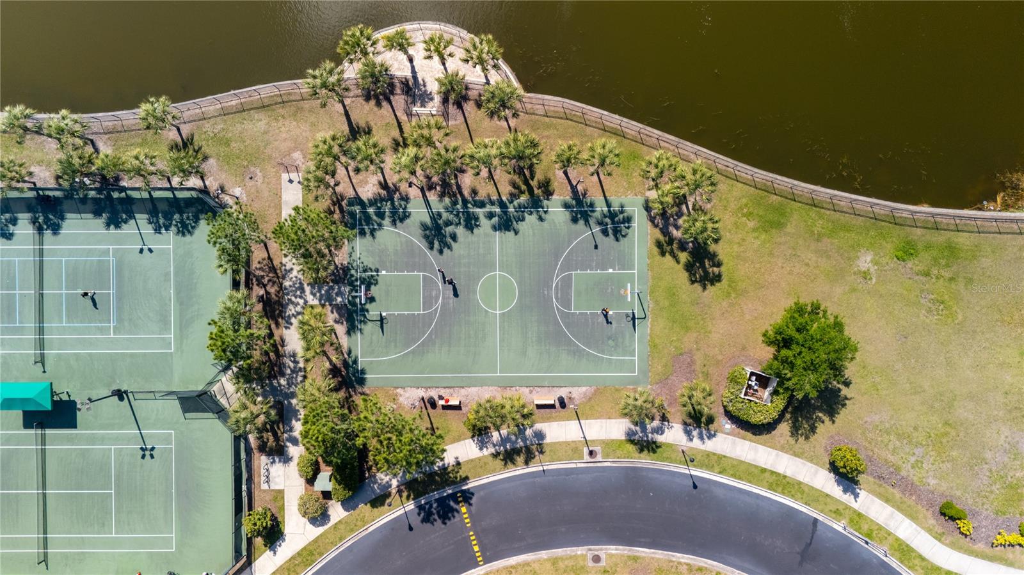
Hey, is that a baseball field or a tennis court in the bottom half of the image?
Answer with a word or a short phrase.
tennis court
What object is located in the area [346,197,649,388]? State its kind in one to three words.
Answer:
basketball court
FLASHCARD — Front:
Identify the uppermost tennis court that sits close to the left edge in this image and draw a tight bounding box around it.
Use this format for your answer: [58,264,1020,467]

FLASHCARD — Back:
[0,193,243,392]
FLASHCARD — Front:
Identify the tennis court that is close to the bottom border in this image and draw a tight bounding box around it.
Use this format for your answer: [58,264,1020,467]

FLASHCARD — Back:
[0,392,245,575]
